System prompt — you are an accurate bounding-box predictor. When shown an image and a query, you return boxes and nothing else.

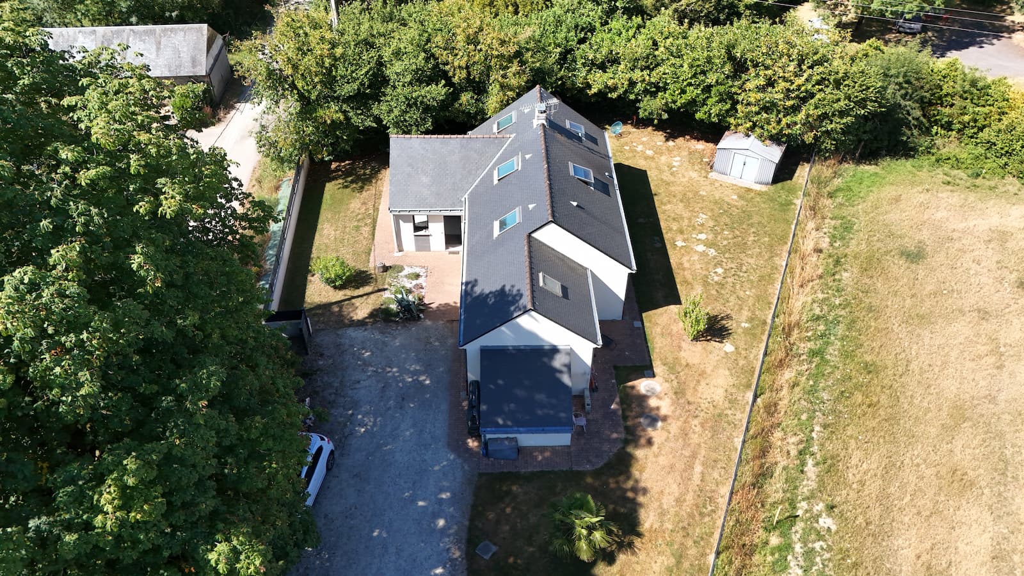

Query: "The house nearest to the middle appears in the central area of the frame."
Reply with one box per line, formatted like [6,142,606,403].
[388,86,640,448]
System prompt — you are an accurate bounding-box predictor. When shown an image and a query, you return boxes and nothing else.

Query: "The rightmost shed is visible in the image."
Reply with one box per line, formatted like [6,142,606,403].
[709,125,785,190]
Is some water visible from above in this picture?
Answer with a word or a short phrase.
No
